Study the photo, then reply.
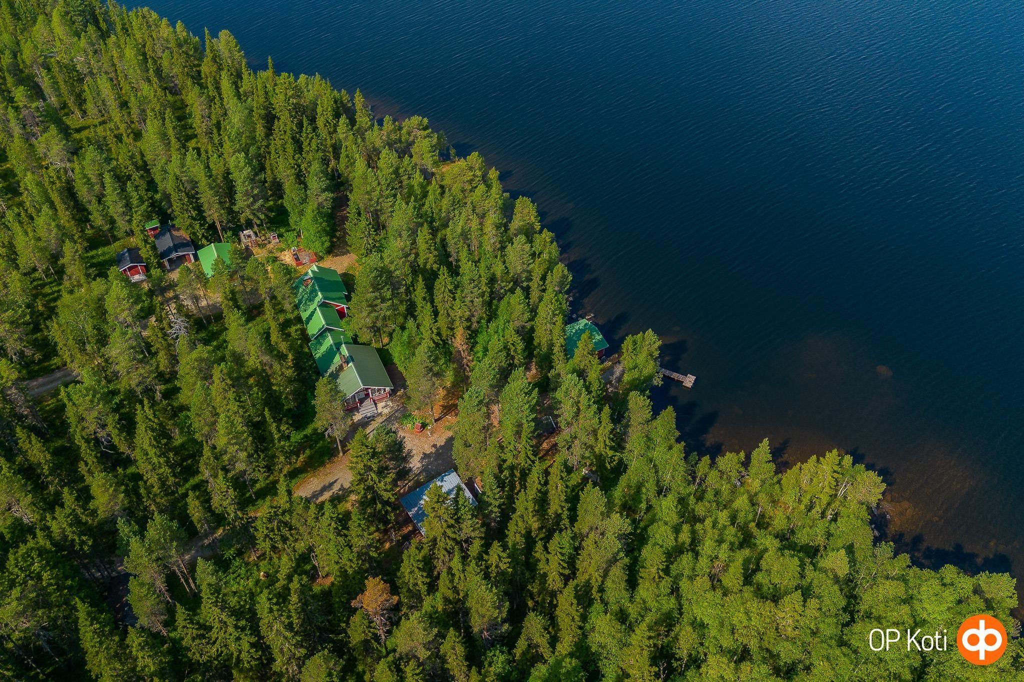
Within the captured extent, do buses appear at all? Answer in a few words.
No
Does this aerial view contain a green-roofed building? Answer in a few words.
Yes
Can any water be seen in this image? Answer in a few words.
Yes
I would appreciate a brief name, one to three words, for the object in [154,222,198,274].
building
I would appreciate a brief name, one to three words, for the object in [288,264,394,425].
building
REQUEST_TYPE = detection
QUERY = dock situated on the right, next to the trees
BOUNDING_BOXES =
[656,366,697,391]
